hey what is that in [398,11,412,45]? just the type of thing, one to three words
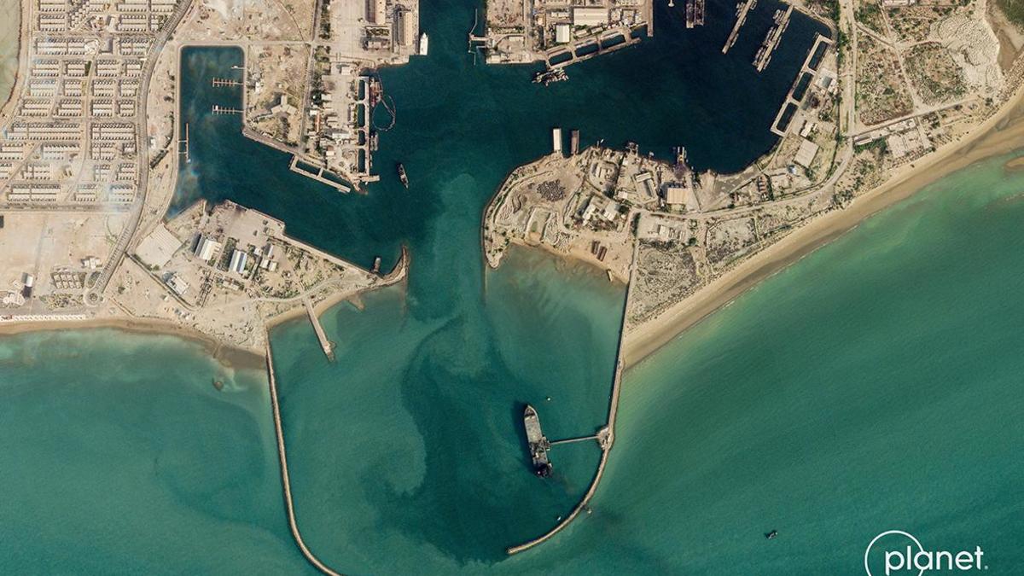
building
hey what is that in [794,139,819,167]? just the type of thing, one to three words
building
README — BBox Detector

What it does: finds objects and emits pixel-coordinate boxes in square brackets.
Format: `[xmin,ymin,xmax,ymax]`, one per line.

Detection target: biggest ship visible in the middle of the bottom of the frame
[524,405,548,478]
